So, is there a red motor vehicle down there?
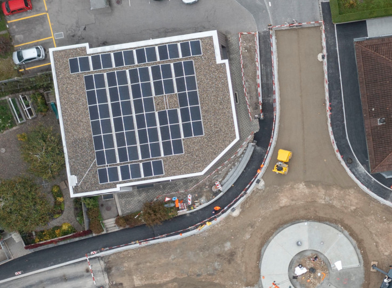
Yes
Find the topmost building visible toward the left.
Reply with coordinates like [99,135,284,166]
[50,31,243,200]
